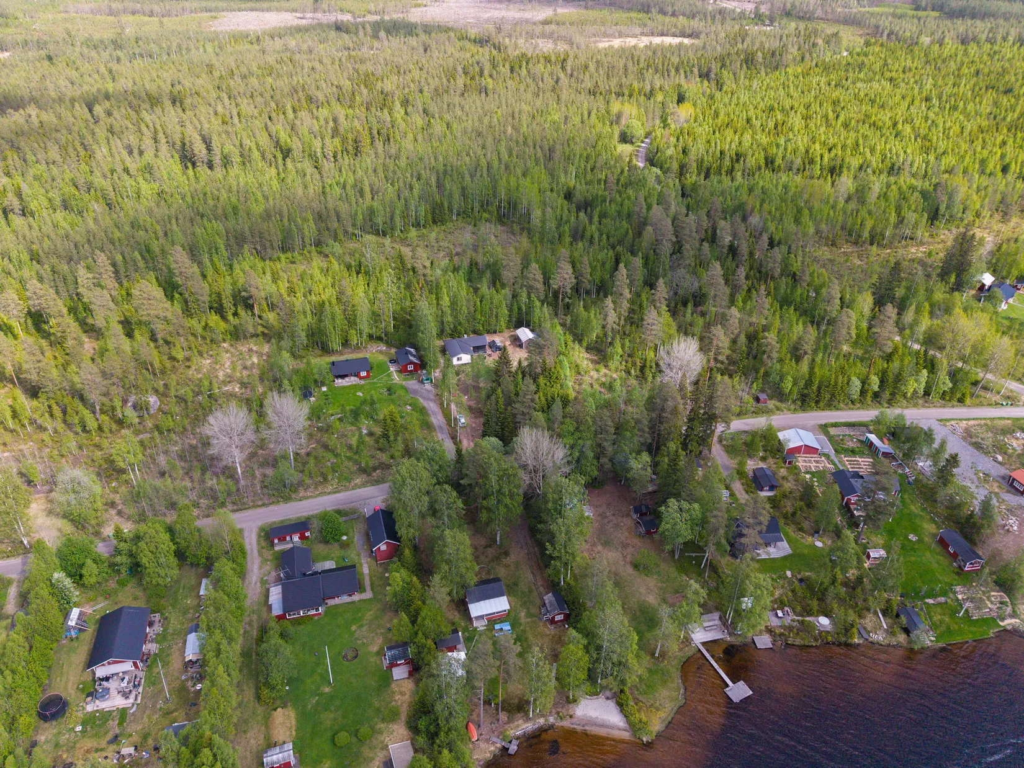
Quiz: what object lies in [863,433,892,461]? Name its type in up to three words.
shed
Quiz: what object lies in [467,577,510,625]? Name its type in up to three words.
house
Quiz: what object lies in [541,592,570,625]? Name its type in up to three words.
building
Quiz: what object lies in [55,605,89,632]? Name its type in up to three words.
greenhouse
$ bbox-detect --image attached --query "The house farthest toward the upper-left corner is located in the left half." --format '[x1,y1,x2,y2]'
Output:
[330,357,371,387]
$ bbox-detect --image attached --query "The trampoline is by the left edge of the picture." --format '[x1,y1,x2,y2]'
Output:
[31,691,67,723]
